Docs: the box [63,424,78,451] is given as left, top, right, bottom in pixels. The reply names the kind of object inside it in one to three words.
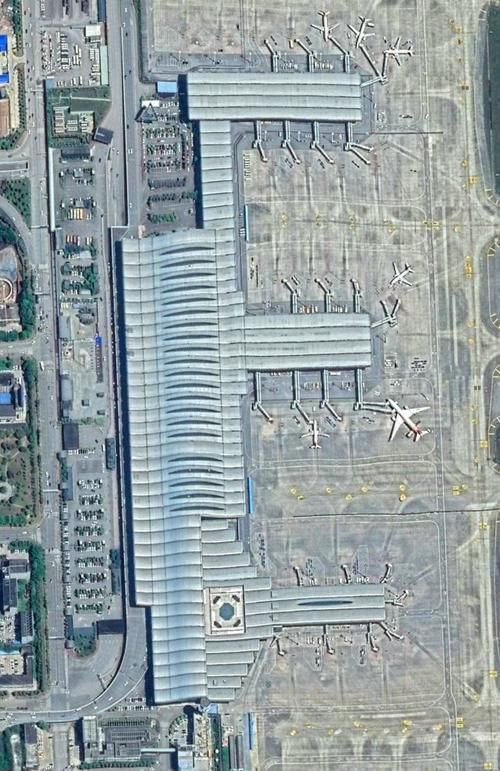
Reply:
building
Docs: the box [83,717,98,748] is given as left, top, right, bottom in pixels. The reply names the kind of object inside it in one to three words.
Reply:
building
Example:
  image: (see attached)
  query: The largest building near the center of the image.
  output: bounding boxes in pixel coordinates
[123,120,282,707]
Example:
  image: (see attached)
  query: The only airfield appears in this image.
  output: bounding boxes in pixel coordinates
[140,0,500,771]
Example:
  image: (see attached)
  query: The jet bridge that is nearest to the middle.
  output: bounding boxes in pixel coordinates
[255,370,273,422]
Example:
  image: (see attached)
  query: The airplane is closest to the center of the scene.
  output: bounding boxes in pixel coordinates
[301,420,330,448]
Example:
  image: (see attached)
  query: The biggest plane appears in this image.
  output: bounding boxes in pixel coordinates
[386,399,430,440]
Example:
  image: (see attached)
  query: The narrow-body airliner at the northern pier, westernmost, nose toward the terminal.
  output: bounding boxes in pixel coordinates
[310,11,338,40]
